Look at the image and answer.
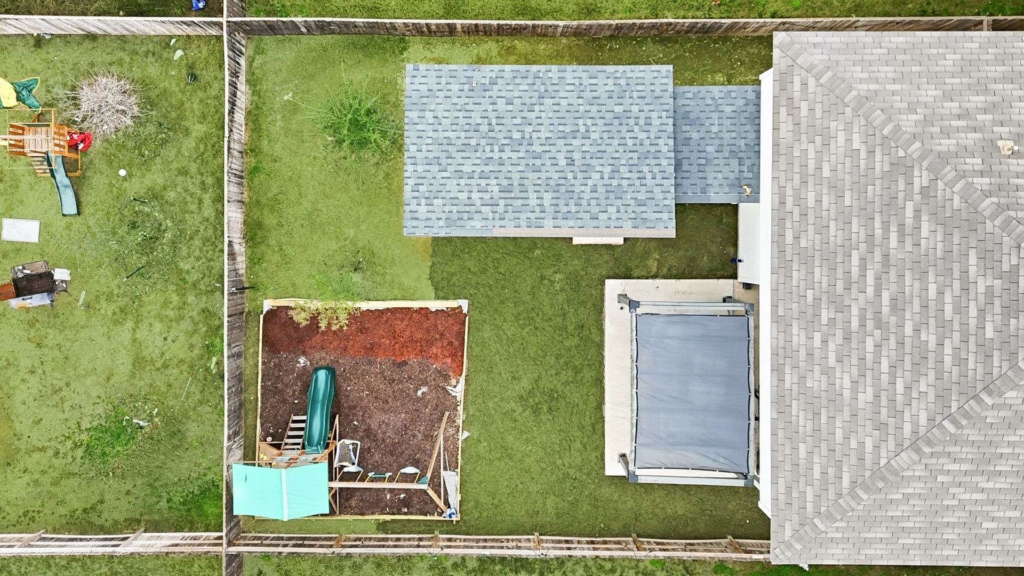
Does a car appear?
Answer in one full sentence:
No, there isn't any car down there.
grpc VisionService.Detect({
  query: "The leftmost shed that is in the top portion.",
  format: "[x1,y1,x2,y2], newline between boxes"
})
[404,65,676,237]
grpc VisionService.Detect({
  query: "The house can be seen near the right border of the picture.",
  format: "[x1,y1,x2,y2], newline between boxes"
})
[737,28,1024,567]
